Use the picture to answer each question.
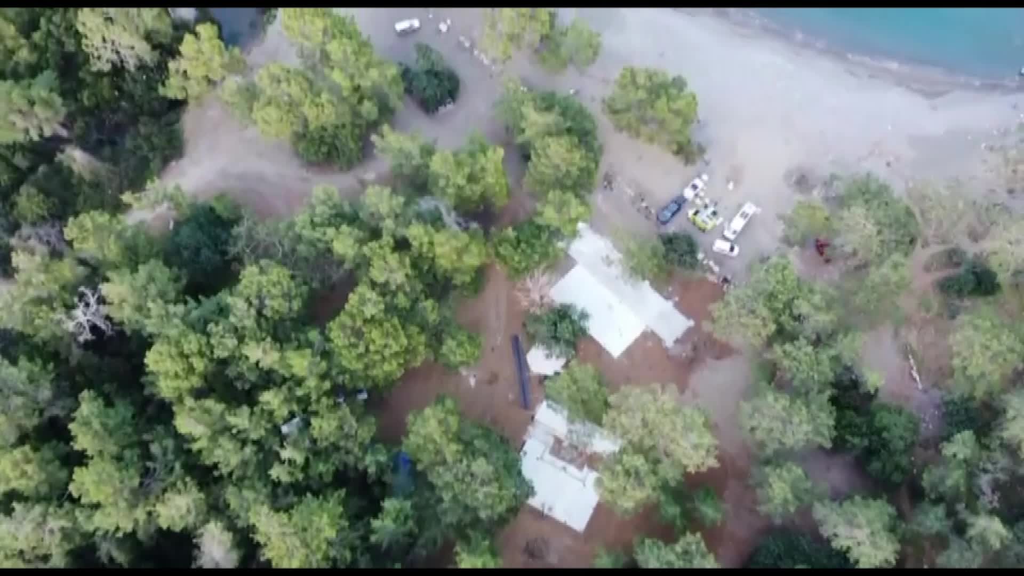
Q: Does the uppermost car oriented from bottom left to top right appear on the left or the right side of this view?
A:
right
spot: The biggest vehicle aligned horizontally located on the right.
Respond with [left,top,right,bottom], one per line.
[712,239,742,255]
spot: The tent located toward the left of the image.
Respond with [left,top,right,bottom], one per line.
[282,408,313,434]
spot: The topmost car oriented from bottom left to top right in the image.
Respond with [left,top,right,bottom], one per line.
[682,174,710,199]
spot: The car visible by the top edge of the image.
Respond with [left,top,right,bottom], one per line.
[392,16,422,33]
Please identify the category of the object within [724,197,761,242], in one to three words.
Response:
van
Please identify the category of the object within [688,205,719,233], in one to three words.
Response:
car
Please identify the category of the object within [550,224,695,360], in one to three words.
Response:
building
